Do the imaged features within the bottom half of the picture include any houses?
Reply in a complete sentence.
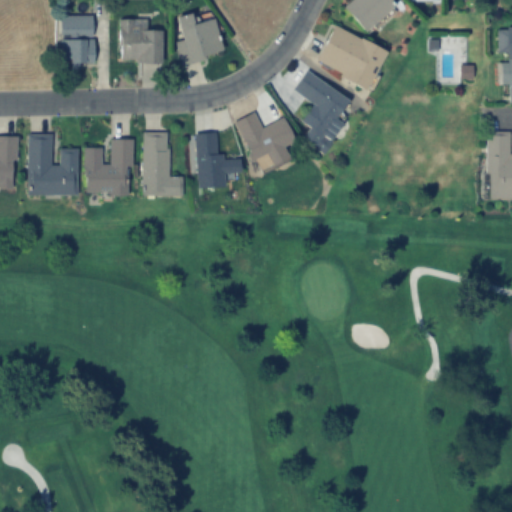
No, no house is visible within the bottom half of the picture.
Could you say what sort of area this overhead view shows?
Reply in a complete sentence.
What you see here is a golf course.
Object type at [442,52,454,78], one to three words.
swimming pool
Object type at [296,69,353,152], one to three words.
house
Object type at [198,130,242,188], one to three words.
house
